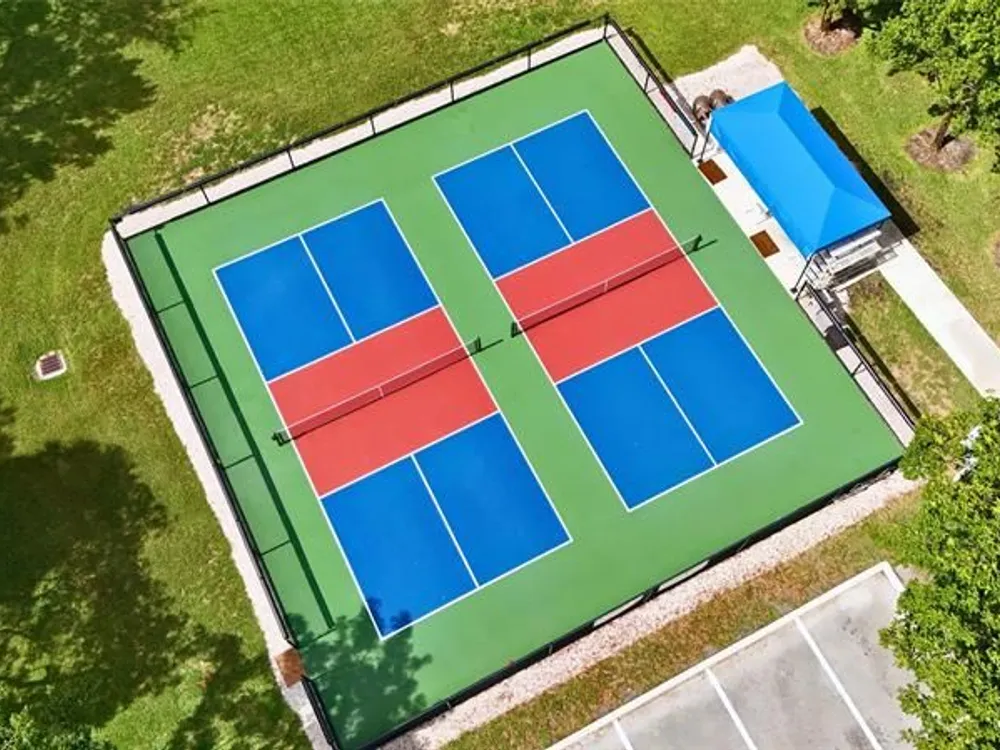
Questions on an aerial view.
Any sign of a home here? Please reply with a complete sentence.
No, the scene contains no home.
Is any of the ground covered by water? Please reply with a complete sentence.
No, there's no water in this view.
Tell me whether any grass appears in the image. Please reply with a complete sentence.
Yes, grass can be seen from above here.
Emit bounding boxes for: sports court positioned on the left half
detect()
[214,198,572,640]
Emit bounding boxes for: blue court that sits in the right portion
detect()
[433,111,801,511]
